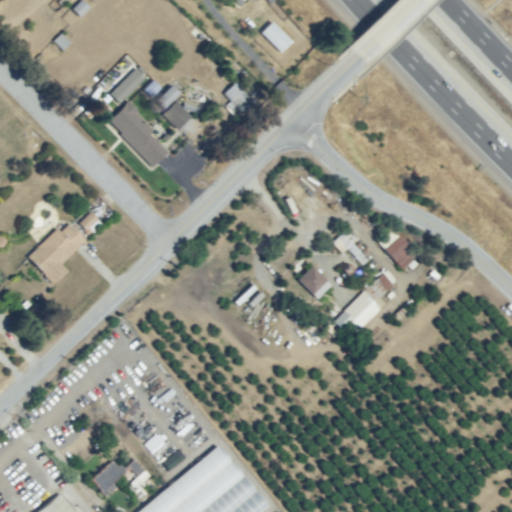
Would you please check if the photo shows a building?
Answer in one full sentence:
Yes, I can see a building in this picture.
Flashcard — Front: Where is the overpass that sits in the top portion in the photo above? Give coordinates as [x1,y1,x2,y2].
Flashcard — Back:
[340,0,443,78]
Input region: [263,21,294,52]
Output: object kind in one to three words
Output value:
shed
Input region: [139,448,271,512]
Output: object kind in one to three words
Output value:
greenhouse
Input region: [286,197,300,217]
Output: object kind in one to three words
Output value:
vehicle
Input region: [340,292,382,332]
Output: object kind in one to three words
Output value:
barn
